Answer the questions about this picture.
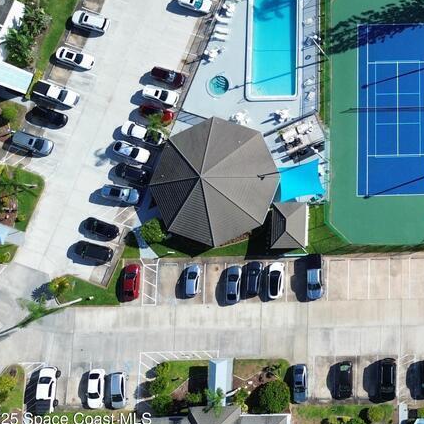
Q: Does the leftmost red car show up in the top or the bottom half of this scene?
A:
bottom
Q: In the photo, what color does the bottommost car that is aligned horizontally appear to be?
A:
black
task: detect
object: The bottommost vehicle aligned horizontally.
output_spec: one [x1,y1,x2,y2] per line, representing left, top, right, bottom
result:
[74,240,116,262]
